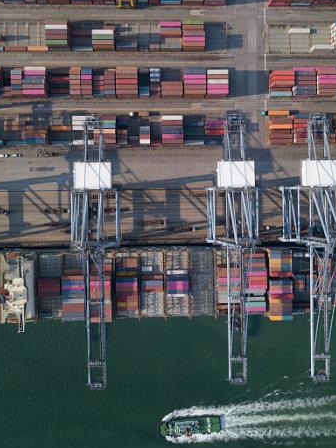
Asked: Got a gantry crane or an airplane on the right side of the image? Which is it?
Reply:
gantry crane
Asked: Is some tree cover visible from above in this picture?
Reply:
No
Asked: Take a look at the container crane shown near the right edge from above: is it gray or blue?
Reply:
gray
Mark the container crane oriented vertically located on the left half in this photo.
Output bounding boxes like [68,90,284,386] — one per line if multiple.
[70,116,123,391]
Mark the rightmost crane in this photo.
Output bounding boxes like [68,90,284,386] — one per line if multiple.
[278,114,336,384]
